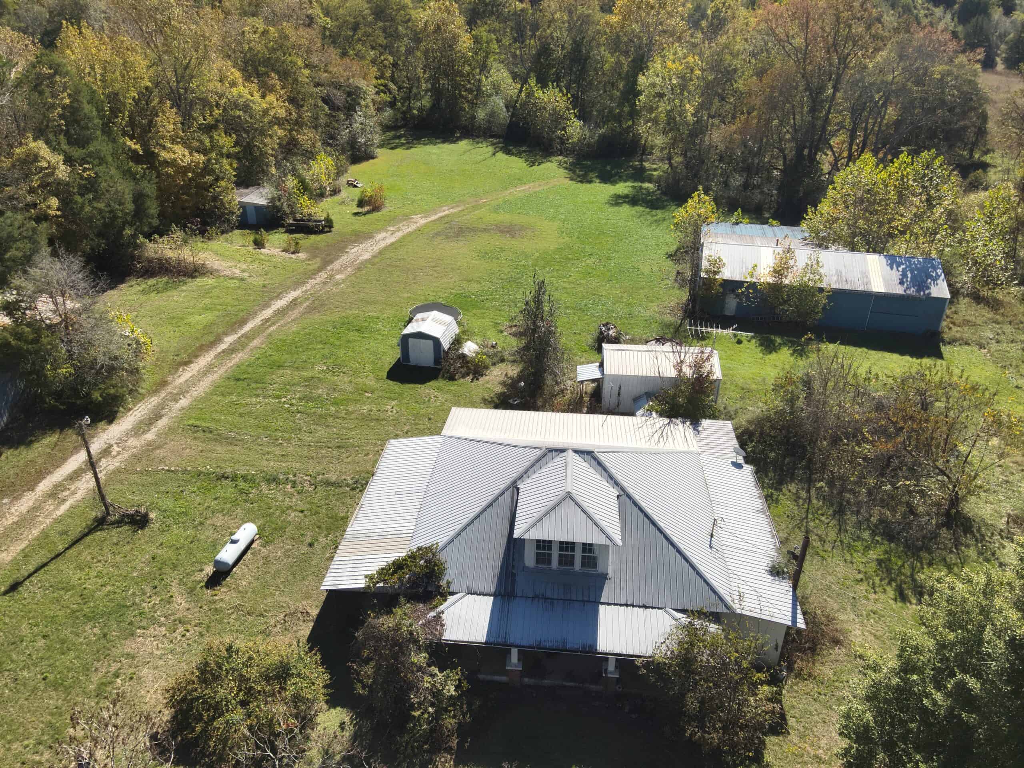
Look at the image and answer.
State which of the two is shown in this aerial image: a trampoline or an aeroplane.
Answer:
trampoline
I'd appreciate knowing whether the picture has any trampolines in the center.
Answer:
Yes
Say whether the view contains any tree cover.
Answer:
Yes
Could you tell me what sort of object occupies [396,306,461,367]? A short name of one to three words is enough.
shed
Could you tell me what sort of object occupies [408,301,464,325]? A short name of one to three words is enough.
trampoline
